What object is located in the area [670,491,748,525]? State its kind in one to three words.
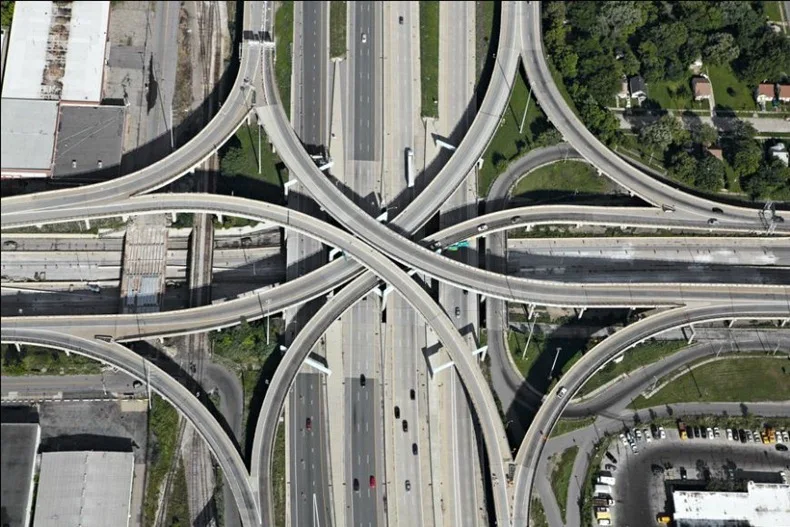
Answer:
building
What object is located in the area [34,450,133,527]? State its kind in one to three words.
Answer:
building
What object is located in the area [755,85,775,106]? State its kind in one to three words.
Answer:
house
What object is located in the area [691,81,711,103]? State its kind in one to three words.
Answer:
house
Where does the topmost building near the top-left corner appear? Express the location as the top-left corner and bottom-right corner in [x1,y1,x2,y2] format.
[1,0,111,109]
